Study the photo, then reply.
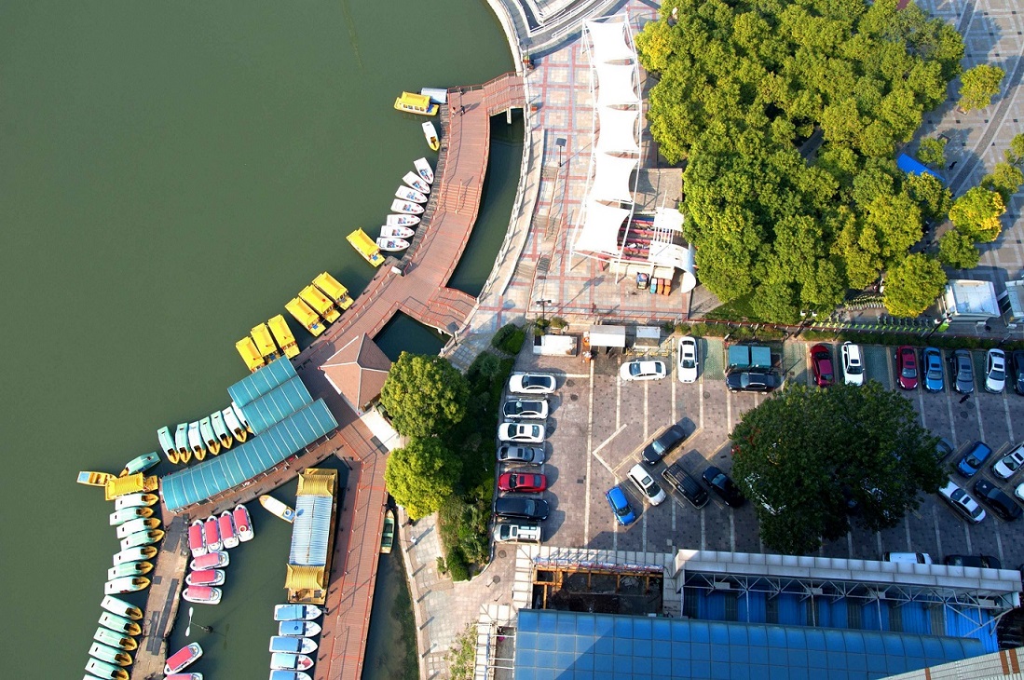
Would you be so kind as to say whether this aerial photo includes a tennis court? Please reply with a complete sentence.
No, there isn't any tennis court down there.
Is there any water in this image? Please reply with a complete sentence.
Yes, the picture does contain water.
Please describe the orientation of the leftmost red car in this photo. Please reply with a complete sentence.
The leftmost red car has been laid out from left to right relative to the frame.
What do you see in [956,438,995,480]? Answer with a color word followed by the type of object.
blue car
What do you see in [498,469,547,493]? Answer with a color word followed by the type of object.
red car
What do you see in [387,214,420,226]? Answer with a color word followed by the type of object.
white boat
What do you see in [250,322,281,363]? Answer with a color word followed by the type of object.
yellow boat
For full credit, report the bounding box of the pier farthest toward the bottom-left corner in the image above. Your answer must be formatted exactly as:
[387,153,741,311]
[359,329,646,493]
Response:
[131,639,168,680]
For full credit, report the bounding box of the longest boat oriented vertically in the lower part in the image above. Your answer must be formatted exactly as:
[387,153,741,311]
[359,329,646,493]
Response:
[284,466,337,603]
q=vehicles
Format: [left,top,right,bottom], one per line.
[494,519,543,545]
[810,343,836,388]
[950,350,977,395]
[677,337,700,384]
[498,469,547,493]
[495,496,549,521]
[509,372,556,395]
[947,479,985,525]
[498,420,544,444]
[921,347,947,393]
[603,485,638,527]
[839,342,867,385]
[990,437,1024,480]
[894,346,921,390]
[701,466,740,509]
[956,438,995,480]
[620,358,667,382]
[1006,350,1024,397]
[881,549,933,565]
[726,370,779,394]
[640,422,687,465]
[503,397,549,421]
[498,442,545,466]
[624,462,668,508]
[944,549,1003,570]
[983,348,1009,394]
[661,461,709,510]
[1010,558,1024,580]
[973,479,1024,524]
